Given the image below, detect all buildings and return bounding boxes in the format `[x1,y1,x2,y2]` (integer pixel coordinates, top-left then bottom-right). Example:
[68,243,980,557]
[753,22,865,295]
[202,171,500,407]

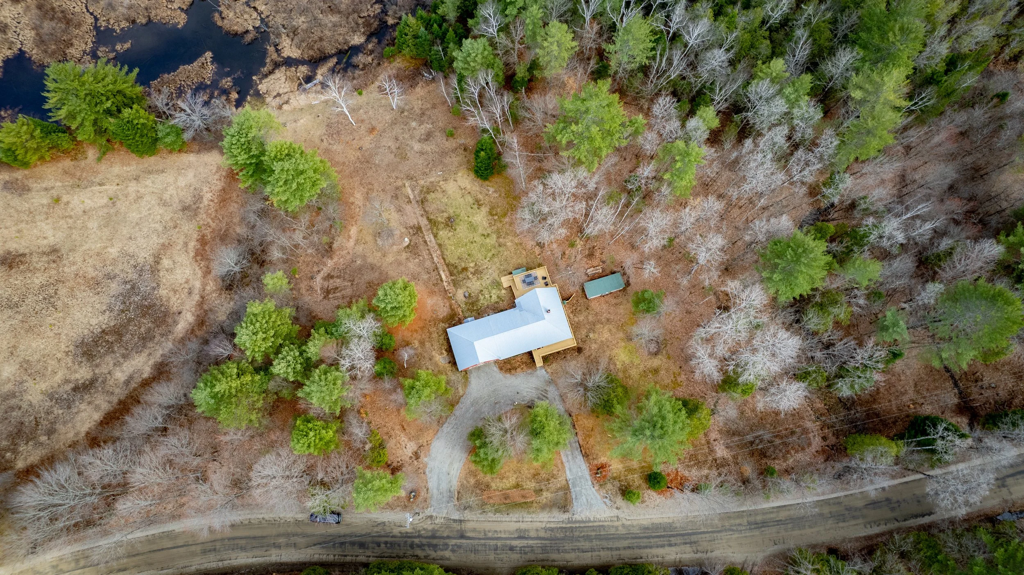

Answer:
[583,273,625,301]
[447,288,573,372]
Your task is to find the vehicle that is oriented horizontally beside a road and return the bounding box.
[309,512,343,527]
